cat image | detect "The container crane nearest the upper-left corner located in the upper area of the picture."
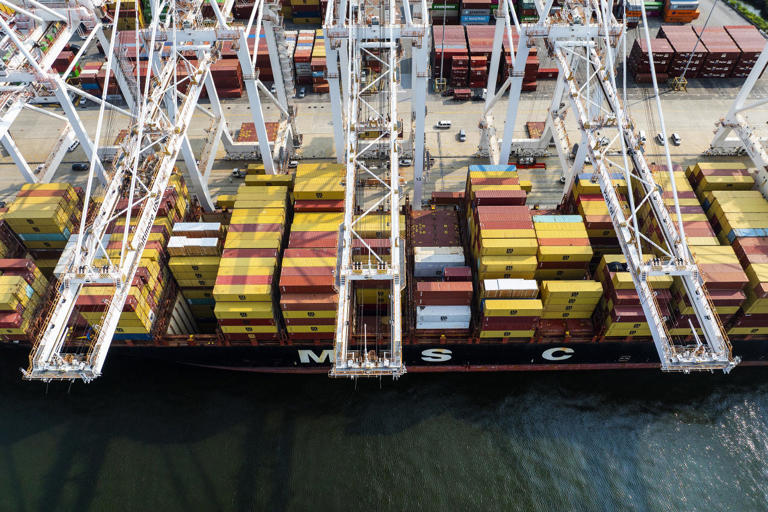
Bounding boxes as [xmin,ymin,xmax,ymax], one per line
[0,0,159,206]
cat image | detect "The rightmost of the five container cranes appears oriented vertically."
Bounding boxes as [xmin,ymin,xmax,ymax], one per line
[708,41,768,166]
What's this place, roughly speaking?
port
